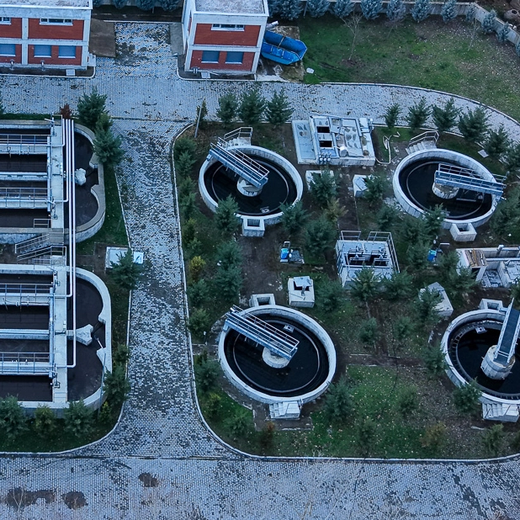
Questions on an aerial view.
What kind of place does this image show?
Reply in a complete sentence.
What you see here is an industrial area.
